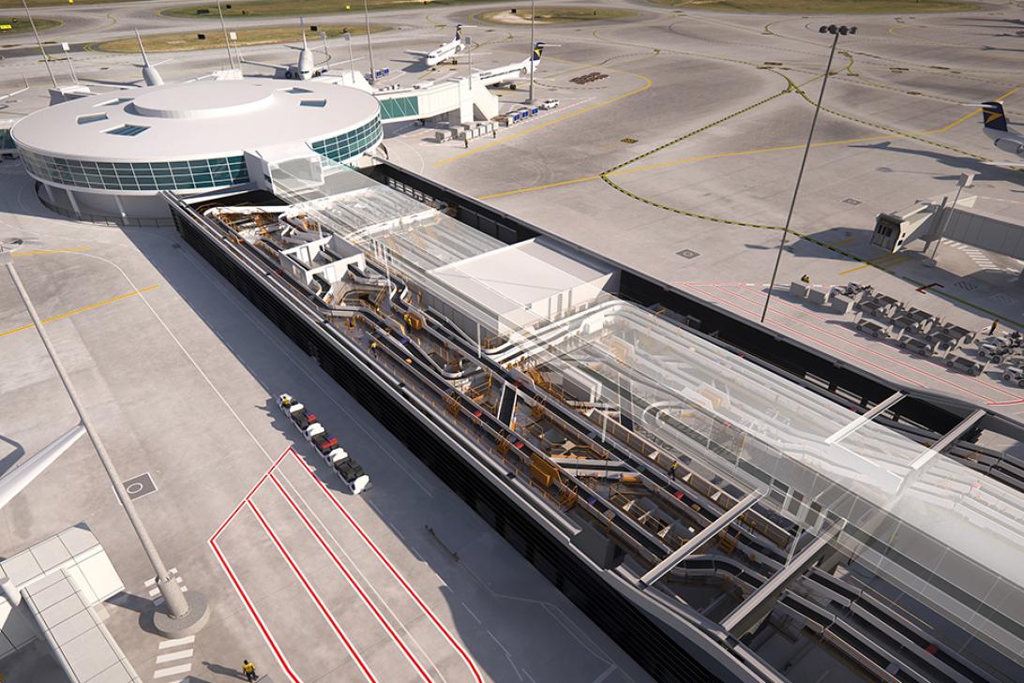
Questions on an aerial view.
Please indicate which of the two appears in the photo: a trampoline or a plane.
plane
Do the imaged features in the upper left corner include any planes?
Yes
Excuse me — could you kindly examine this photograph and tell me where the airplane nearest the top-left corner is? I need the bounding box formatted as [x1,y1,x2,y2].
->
[83,28,207,86]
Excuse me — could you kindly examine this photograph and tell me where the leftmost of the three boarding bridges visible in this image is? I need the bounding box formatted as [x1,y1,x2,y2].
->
[0,524,165,683]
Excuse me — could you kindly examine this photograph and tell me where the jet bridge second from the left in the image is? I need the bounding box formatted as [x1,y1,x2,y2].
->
[376,83,465,127]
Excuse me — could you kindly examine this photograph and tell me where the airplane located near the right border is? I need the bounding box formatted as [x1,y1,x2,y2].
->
[963,94,1024,163]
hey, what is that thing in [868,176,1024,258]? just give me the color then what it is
gray jet bridge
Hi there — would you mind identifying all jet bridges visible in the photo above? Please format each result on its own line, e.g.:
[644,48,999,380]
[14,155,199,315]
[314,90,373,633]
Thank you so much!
[868,176,1024,258]
[376,83,465,127]
[0,524,165,683]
